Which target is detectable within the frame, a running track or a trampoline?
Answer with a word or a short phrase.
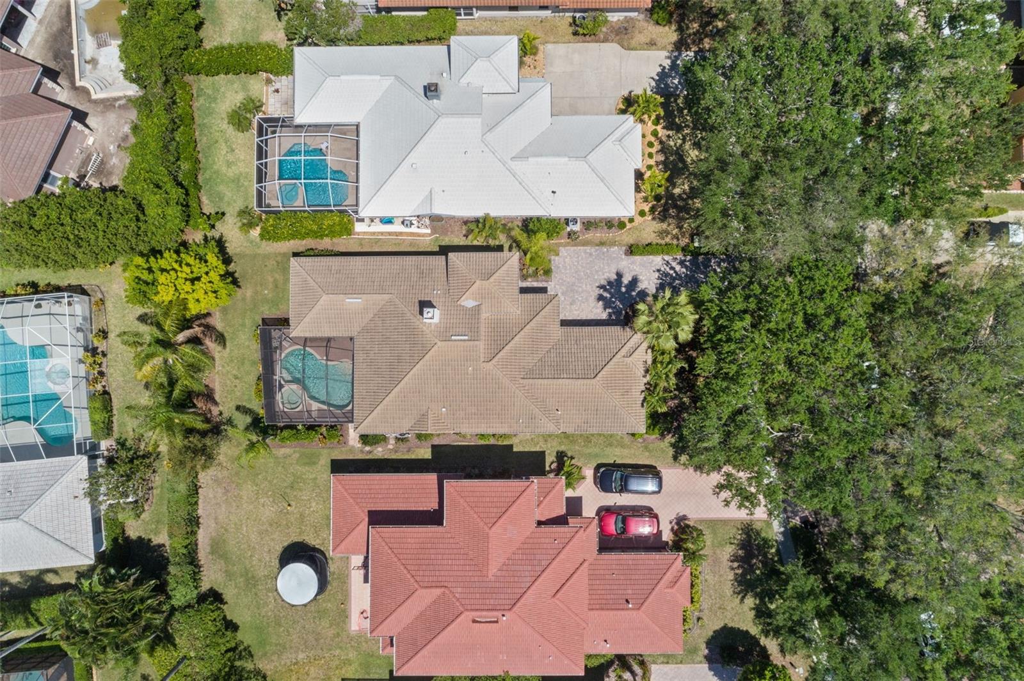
trampoline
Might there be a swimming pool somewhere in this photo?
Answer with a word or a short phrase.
Yes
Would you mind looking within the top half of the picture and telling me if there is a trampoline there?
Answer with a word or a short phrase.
No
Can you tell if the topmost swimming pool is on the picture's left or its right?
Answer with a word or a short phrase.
left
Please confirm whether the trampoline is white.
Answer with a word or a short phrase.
Yes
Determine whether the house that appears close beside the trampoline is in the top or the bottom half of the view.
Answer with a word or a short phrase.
bottom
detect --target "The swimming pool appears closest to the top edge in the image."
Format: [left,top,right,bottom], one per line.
[69,0,150,100]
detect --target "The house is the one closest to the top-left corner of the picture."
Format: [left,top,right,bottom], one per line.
[0,0,87,202]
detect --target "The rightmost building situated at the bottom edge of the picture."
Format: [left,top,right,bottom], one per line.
[329,472,693,678]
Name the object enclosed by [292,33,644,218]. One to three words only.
house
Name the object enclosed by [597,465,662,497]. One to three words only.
car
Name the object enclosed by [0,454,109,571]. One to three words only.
house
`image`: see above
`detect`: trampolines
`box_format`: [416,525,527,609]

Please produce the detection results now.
[276,550,330,605]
